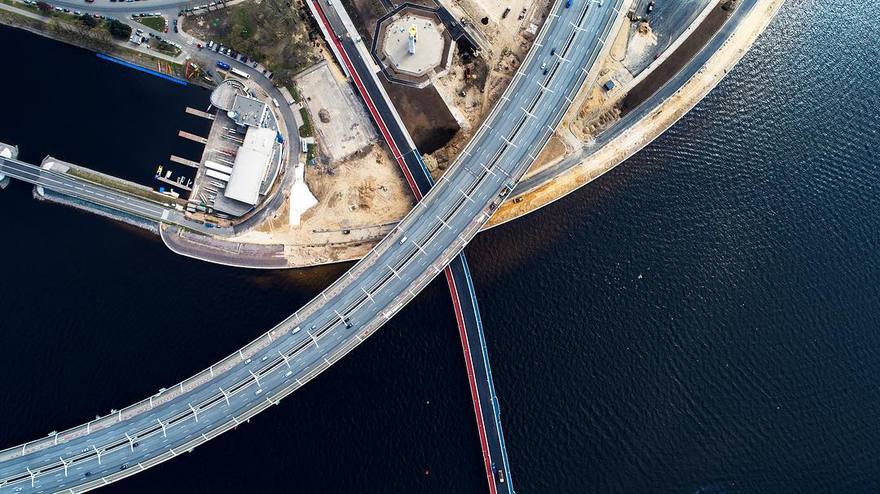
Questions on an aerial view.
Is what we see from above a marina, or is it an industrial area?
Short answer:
marina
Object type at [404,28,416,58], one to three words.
lighthouse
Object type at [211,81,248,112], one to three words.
building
